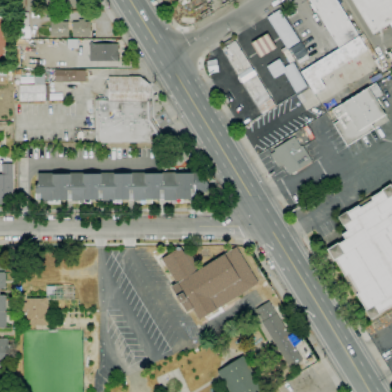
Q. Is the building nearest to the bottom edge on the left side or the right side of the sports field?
on the right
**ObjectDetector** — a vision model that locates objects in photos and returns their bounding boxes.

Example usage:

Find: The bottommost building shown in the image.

[219,355,258,392]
